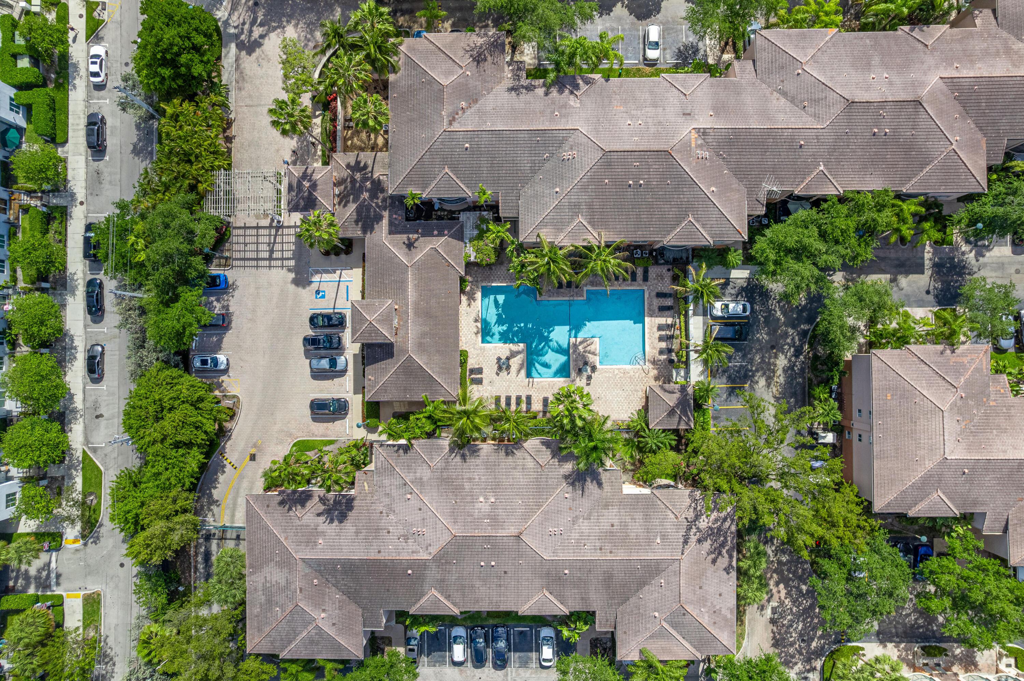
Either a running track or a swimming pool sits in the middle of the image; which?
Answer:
swimming pool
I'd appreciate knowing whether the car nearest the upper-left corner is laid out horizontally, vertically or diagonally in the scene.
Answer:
vertically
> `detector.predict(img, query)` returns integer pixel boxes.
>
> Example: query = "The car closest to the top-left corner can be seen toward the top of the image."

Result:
[88,46,109,86]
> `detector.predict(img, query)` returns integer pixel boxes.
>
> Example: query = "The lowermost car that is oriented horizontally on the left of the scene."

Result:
[310,397,349,416]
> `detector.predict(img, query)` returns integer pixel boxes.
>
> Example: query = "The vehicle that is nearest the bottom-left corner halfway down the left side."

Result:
[85,342,107,380]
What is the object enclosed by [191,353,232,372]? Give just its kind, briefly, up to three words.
car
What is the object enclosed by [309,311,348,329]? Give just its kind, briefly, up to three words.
car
